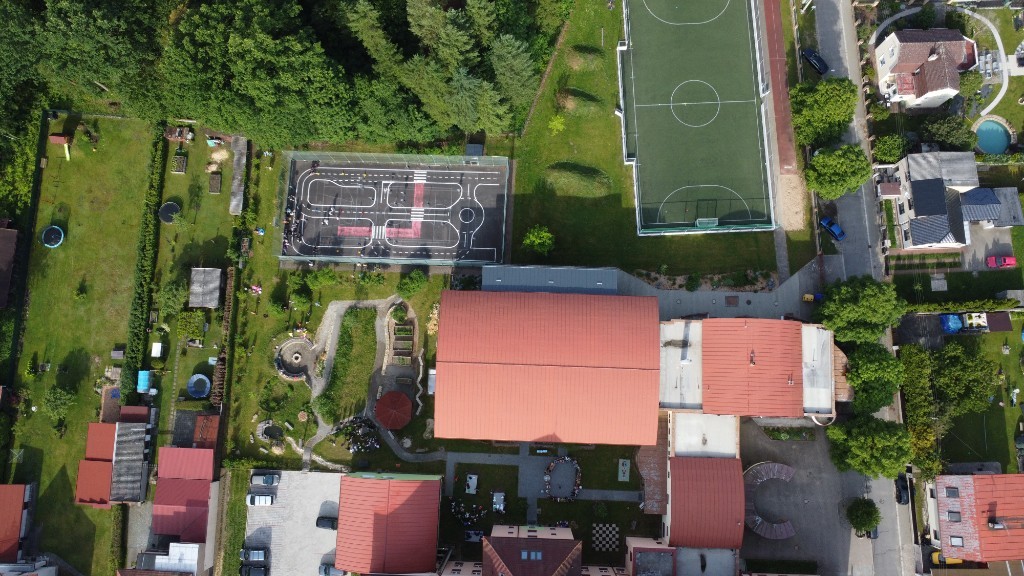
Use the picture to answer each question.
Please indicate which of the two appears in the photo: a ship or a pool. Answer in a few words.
pool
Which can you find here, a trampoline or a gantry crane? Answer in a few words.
trampoline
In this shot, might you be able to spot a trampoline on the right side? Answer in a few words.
No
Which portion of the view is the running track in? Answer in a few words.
top right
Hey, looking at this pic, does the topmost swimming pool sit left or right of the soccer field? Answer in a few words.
to the right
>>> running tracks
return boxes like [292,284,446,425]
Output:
[764,0,797,175]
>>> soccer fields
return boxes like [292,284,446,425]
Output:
[618,0,775,235]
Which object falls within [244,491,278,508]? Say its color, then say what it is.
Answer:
white car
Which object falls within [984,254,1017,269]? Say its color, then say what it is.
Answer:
pink car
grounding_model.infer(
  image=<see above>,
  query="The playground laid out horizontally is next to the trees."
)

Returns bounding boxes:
[282,160,508,266]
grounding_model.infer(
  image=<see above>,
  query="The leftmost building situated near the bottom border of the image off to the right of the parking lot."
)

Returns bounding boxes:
[336,473,442,570]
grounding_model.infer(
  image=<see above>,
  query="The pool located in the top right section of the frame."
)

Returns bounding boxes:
[971,116,1013,152]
